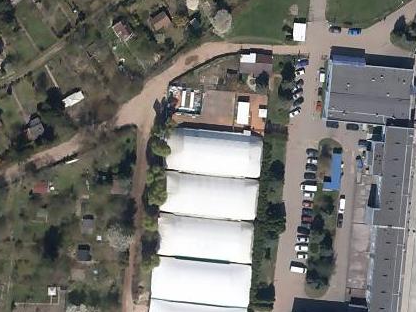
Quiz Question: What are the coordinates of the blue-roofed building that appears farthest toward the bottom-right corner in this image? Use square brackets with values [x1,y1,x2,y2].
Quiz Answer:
[321,153,341,191]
